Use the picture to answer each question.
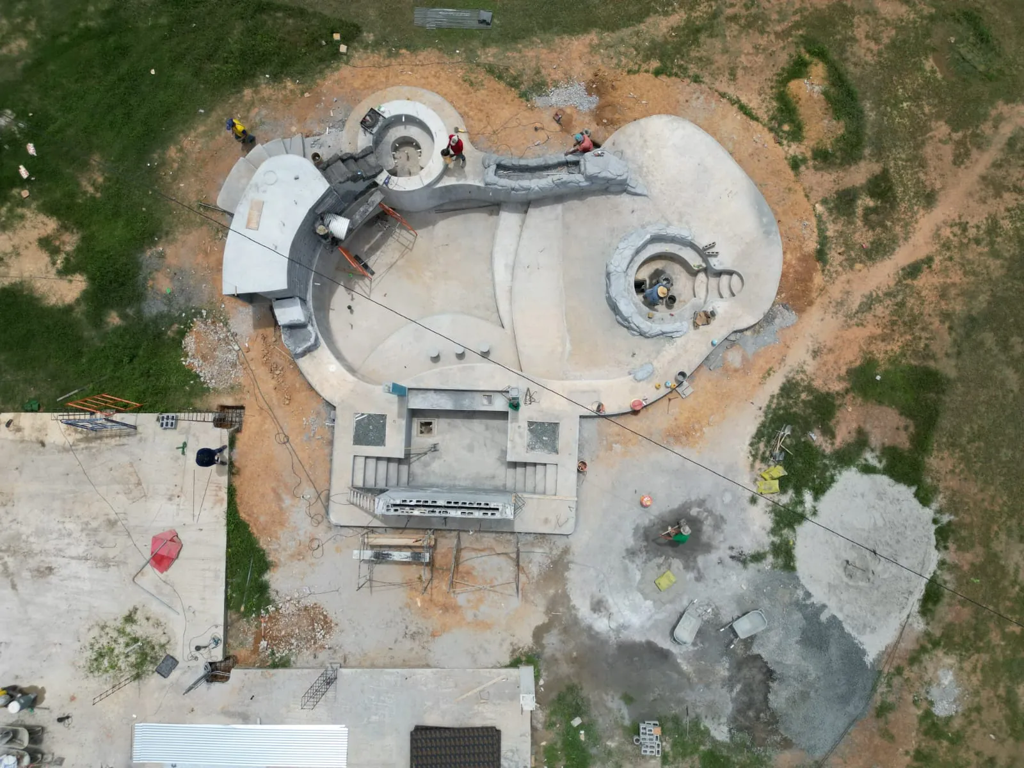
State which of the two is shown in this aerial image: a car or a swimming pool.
swimming pool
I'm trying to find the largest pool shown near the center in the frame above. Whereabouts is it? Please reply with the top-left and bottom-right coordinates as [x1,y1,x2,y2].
[269,87,782,535]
